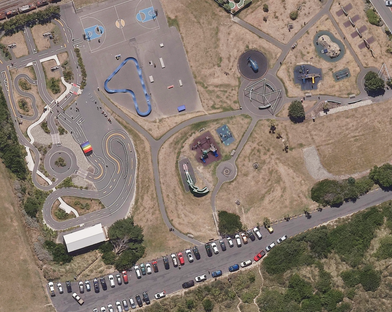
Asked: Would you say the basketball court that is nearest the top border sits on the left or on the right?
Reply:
left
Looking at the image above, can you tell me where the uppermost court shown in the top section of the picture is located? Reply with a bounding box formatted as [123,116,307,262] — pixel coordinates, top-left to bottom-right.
[79,0,162,52]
